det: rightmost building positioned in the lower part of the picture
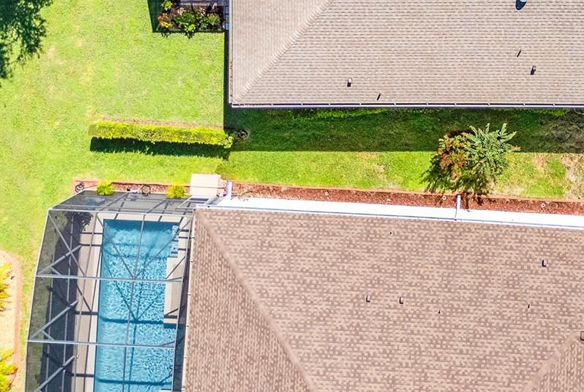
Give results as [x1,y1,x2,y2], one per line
[183,180,584,392]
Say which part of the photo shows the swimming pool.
bottom left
